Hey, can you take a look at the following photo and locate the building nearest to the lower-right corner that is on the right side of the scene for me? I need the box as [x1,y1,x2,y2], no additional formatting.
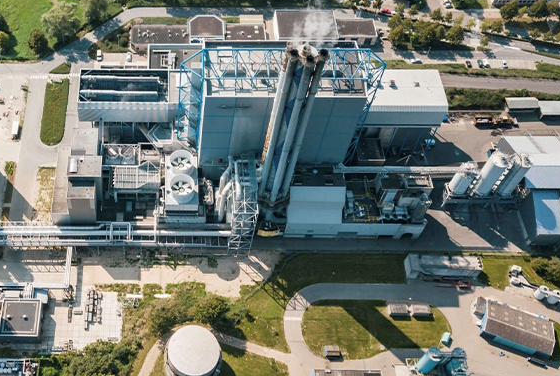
[475,299,559,365]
